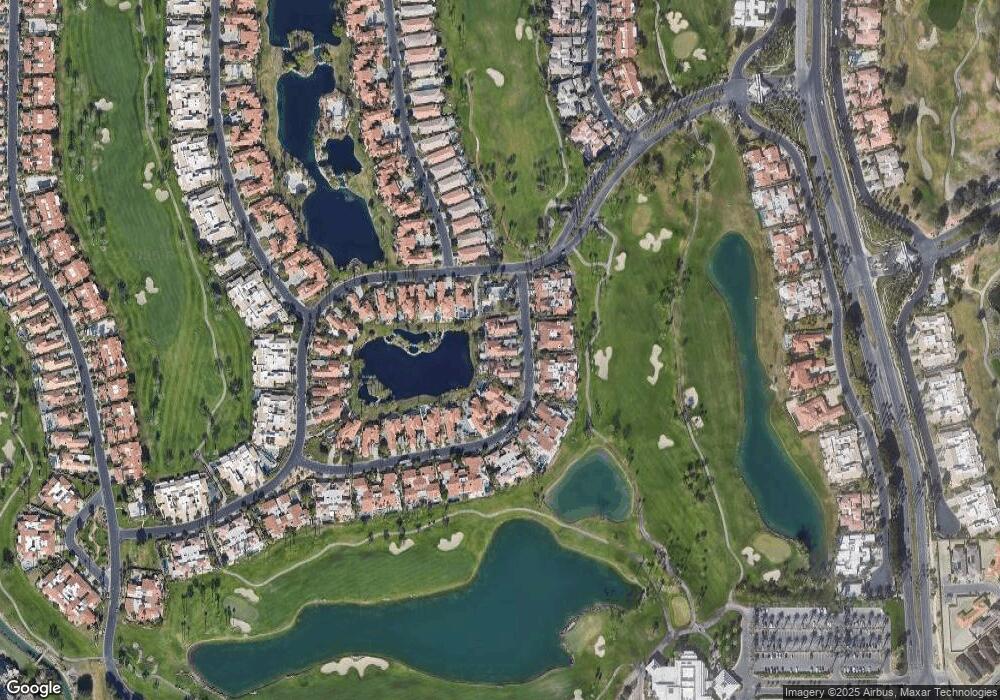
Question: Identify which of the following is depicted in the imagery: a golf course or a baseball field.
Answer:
golf course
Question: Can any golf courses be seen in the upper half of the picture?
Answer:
Yes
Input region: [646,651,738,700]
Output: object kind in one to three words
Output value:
building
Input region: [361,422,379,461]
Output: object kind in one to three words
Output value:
house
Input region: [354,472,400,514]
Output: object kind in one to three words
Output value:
house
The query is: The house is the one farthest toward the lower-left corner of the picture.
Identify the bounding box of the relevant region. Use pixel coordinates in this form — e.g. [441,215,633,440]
[39,562,100,626]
